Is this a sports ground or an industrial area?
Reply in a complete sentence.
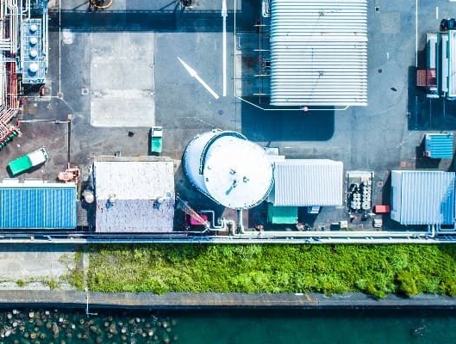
The area seen from above is an industrial area.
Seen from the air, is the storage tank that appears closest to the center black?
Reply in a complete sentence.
No, the storage tank that appears closest to the center is white.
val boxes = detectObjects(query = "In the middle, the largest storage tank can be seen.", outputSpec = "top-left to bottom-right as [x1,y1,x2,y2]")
[176,124,279,211]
